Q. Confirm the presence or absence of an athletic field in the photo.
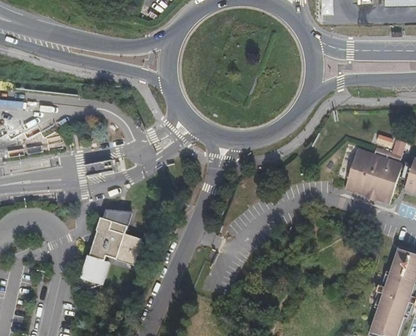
No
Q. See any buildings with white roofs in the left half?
Yes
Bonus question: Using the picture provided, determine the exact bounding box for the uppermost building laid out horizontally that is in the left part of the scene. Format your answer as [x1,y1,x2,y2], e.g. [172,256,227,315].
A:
[86,158,114,176]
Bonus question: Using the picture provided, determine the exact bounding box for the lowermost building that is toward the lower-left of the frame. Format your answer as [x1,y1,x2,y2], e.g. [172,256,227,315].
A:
[82,256,110,286]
